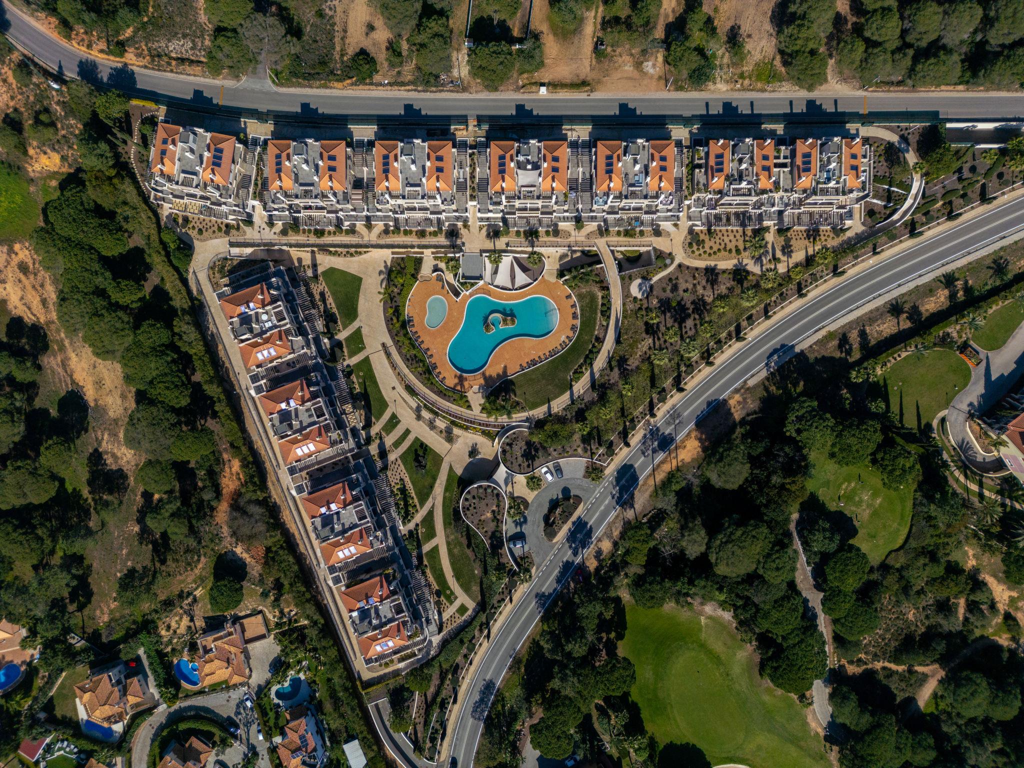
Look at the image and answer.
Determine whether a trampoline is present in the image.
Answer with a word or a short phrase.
No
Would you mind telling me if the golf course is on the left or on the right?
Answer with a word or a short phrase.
right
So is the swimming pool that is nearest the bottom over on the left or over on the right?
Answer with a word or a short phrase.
left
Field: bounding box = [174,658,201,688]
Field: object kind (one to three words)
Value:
swimming pool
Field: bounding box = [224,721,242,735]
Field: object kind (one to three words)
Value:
car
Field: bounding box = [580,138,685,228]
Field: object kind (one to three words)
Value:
building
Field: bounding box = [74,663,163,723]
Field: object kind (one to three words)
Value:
house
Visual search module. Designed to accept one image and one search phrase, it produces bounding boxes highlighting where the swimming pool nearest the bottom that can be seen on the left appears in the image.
[84,718,114,739]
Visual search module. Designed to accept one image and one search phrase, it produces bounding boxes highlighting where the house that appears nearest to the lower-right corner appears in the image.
[986,407,1024,483]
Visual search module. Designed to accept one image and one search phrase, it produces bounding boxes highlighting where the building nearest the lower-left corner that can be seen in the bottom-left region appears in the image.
[18,732,54,761]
